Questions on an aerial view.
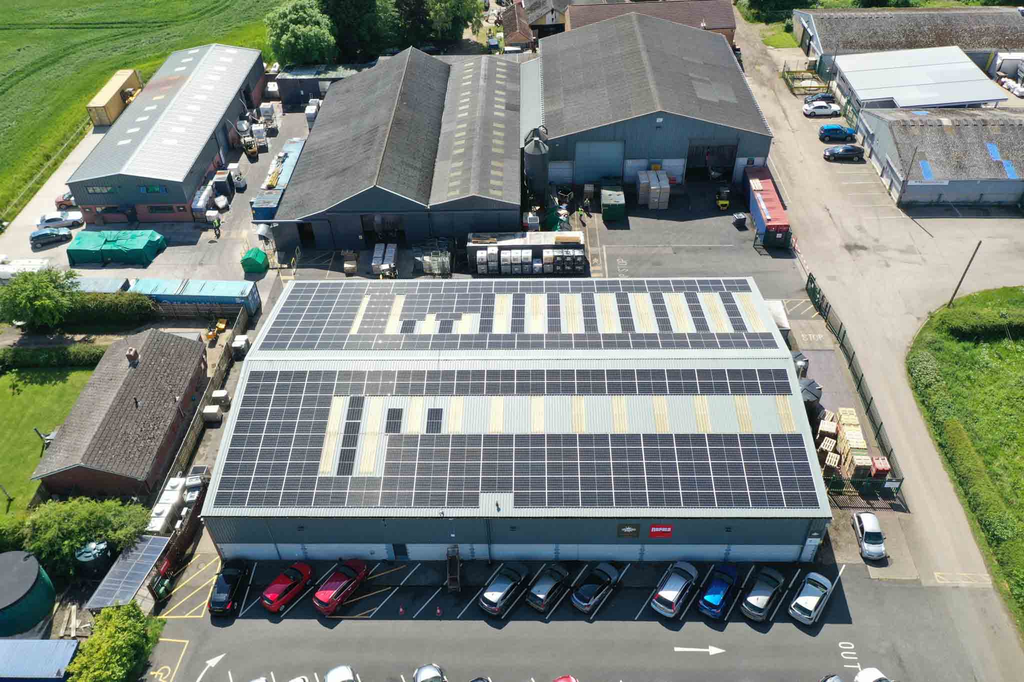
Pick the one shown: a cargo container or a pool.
cargo container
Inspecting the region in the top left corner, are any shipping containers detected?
Yes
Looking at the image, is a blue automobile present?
Yes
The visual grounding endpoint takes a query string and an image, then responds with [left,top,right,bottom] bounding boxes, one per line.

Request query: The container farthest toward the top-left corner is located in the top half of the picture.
[88,69,146,123]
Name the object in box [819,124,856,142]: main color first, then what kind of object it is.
blue car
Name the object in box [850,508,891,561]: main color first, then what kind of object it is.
white car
